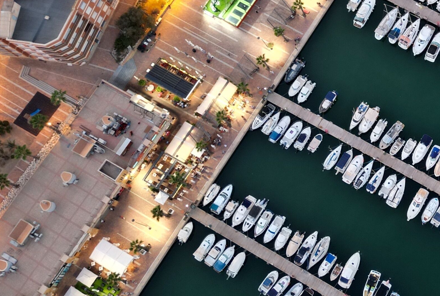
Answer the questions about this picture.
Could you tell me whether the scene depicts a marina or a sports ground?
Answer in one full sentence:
This looks like a marina.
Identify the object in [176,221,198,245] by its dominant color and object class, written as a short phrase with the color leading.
white boat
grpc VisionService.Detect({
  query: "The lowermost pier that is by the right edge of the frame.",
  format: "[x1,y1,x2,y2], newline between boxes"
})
[267,91,440,195]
